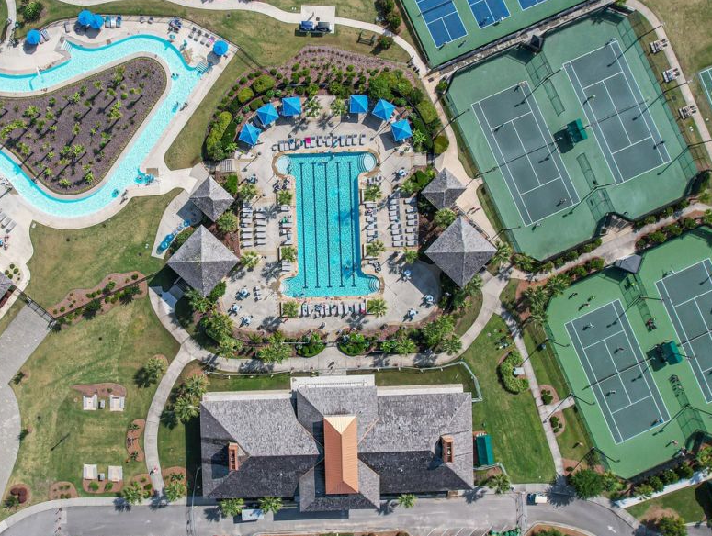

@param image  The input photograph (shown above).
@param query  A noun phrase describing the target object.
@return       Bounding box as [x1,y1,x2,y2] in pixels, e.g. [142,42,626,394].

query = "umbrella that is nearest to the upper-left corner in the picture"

[27,28,43,45]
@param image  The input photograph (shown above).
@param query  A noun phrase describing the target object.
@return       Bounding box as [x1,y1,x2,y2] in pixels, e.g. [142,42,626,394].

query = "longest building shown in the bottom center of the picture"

[200,371,473,511]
